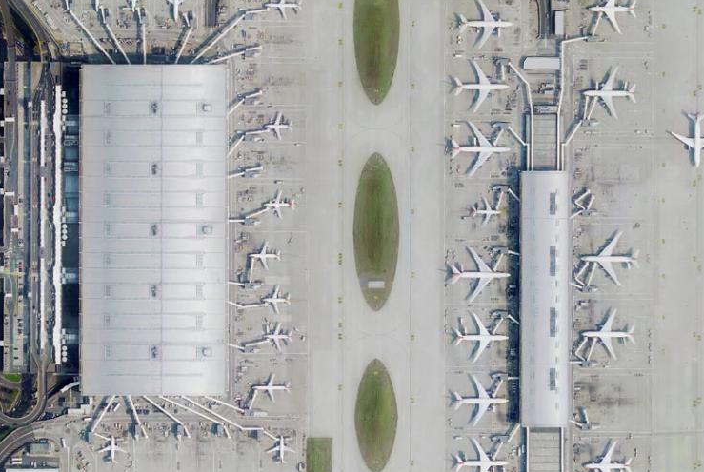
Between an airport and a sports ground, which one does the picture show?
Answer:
airport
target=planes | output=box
[266,0,301,19]
[671,113,704,167]
[266,112,293,139]
[100,436,127,463]
[451,247,511,302]
[456,60,510,112]
[457,437,509,472]
[167,0,185,22]
[581,231,639,285]
[249,241,281,270]
[455,374,509,426]
[583,66,636,117]
[457,312,509,362]
[582,307,635,358]
[472,198,501,225]
[266,190,294,218]
[590,0,637,32]
[452,122,511,176]
[265,323,292,350]
[262,285,291,314]
[463,0,513,47]
[584,442,632,472]
[253,372,291,402]
[268,436,295,463]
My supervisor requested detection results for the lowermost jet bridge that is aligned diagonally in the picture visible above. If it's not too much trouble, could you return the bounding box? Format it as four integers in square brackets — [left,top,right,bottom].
[492,424,521,461]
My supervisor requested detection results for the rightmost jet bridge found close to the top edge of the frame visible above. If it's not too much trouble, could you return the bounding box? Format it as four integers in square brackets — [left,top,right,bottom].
[558,12,602,171]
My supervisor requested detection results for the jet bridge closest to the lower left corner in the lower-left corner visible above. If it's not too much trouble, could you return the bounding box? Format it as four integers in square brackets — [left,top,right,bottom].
[85,396,115,441]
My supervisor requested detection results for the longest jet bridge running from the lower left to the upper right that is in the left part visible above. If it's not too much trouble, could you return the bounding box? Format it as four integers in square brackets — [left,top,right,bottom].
[191,7,270,64]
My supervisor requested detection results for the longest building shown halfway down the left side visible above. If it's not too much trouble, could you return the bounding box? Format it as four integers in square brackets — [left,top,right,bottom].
[77,64,230,395]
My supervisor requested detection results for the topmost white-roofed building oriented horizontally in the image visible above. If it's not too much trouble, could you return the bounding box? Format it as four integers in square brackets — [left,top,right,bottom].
[524,56,560,69]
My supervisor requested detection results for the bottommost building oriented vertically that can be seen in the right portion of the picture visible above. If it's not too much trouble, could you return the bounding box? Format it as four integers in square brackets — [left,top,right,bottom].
[521,105,571,472]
